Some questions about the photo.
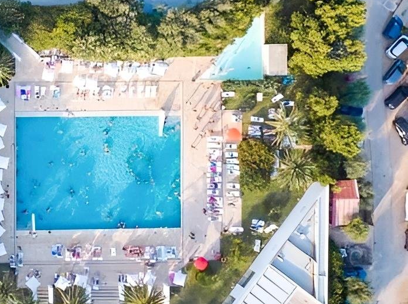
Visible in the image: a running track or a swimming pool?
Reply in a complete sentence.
The image shows a swimming pool.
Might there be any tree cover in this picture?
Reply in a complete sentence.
Yes, tree cover shows up in the scene.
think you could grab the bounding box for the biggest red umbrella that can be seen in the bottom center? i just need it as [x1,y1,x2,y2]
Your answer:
[193,256,209,271]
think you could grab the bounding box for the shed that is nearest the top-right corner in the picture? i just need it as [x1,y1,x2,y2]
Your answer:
[256,43,289,75]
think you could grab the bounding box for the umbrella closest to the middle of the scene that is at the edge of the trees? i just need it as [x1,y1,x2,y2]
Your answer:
[226,127,242,142]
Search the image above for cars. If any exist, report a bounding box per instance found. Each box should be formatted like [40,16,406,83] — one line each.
[384,58,408,85]
[339,104,368,118]
[384,15,406,41]
[387,85,408,109]
[394,116,408,144]
[387,34,408,58]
